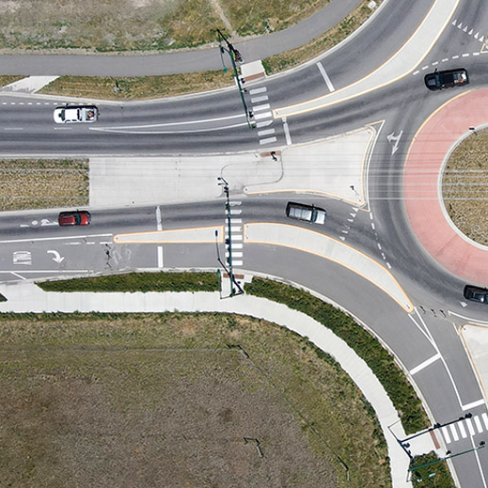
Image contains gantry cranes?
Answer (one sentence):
No, I can see no gantry crane in this picture.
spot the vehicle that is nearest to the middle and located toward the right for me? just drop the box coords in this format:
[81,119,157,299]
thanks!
[286,204,327,224]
